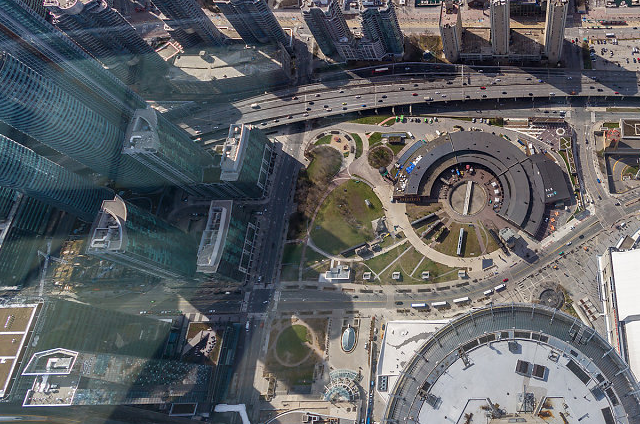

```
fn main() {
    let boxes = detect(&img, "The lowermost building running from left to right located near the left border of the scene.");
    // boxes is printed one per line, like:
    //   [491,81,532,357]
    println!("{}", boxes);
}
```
[20,374,197,406]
